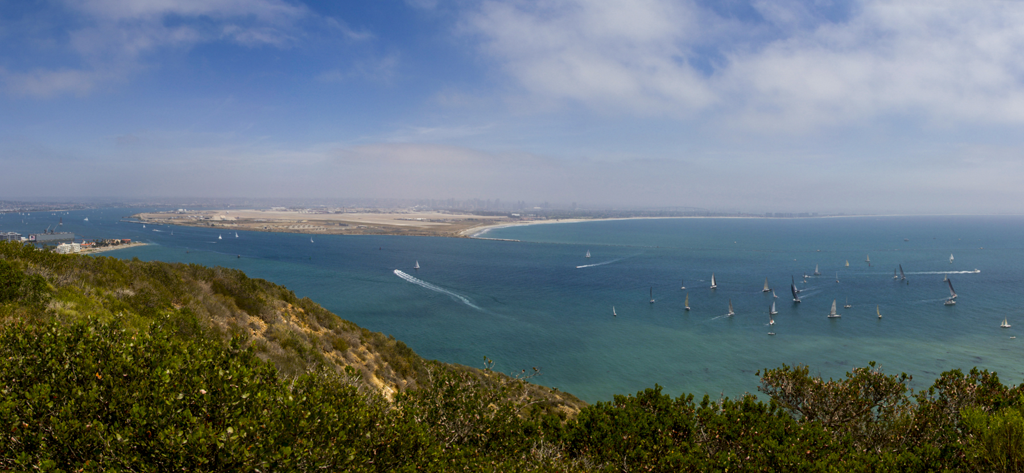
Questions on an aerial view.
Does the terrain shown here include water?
Yes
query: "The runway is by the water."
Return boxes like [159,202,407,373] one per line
[142,209,506,224]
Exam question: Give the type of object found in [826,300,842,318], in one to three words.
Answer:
boat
